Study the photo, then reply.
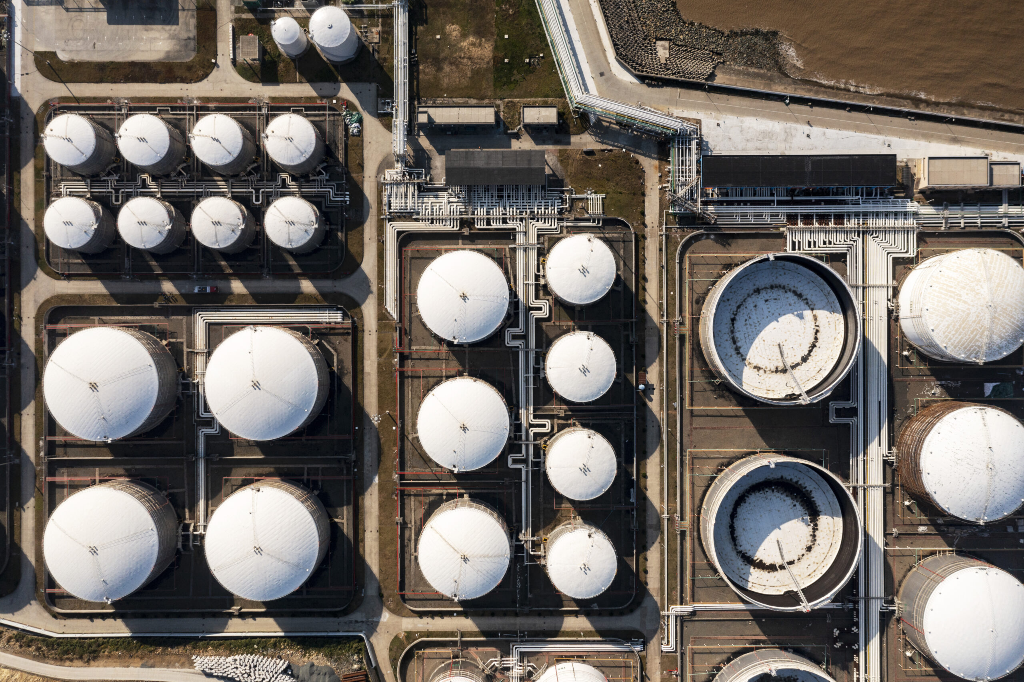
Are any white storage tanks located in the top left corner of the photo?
Yes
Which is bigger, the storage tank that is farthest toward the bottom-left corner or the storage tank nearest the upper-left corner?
the storage tank that is farthest toward the bottom-left corner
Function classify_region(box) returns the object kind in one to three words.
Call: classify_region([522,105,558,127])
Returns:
building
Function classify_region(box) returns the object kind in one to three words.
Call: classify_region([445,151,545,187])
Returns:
shed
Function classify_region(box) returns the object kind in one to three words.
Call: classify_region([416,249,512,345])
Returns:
storage tank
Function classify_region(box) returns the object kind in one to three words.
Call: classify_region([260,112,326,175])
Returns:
storage tank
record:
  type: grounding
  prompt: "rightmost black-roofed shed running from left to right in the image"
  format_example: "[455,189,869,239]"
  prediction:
[699,154,896,192]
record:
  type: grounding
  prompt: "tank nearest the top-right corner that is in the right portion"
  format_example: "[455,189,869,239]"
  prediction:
[897,246,1024,366]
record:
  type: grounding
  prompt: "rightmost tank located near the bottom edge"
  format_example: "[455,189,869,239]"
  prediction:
[898,552,1024,682]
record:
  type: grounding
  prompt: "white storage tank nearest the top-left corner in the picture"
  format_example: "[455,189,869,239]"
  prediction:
[39,112,117,175]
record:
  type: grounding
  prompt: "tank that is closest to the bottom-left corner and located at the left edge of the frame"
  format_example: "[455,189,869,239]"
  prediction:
[42,479,179,605]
